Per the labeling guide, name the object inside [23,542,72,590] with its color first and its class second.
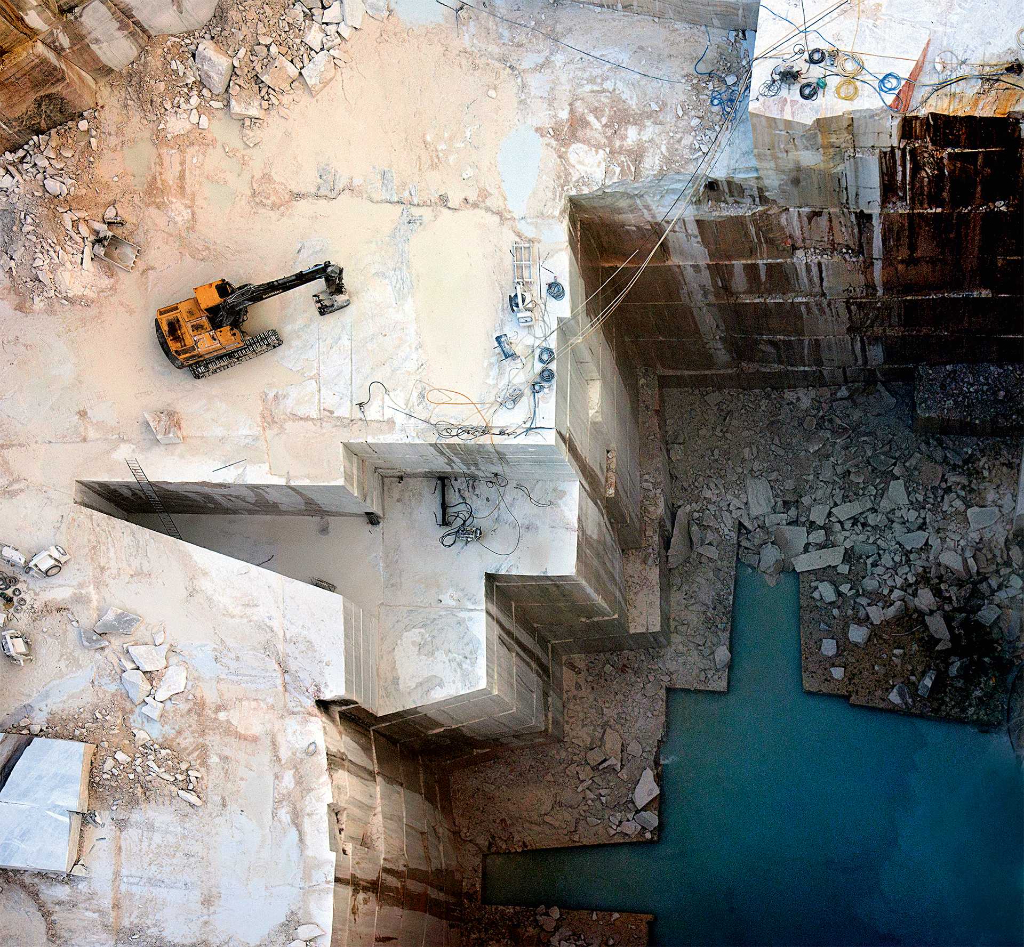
white trailer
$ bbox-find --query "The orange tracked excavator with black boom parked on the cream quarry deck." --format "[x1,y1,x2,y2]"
[157,261,346,385]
